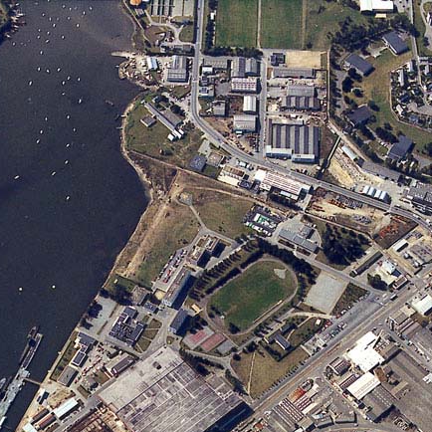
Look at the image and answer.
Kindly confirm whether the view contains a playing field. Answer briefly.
Yes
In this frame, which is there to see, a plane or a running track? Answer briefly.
running track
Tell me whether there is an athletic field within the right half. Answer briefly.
Yes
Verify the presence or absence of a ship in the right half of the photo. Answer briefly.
No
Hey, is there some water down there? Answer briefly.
Yes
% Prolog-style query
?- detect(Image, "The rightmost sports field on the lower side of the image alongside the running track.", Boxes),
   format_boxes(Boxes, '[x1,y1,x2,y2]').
[262,262,326,319]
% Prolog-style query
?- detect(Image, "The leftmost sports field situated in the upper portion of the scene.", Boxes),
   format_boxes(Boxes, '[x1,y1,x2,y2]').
[215,0,257,47]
